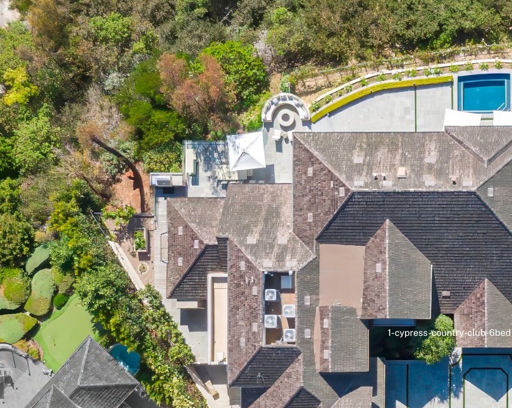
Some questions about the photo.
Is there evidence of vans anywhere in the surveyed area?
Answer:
No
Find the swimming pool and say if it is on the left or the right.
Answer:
right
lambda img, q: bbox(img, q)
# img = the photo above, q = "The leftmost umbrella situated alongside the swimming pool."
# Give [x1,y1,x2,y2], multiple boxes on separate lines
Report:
[444,110,482,126]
